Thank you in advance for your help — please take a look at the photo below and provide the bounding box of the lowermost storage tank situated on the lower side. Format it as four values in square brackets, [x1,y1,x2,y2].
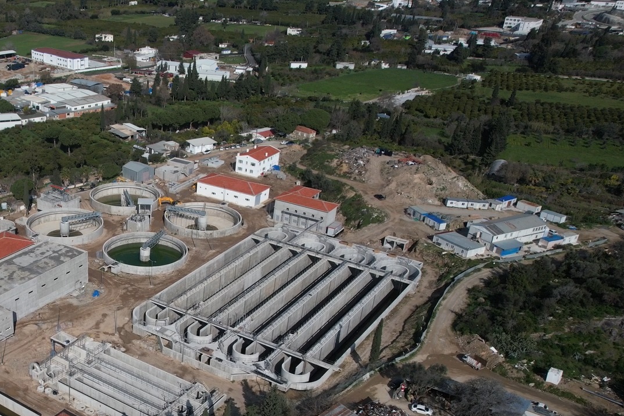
[103,228,188,282]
